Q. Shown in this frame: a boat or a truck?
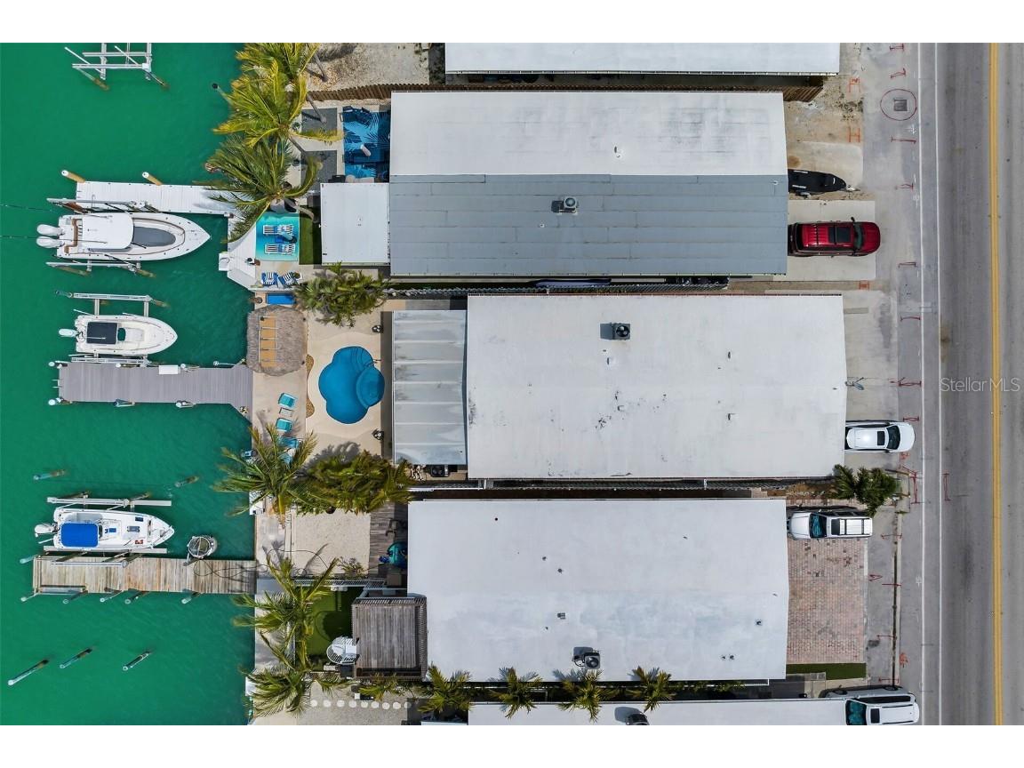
boat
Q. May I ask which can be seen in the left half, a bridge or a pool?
pool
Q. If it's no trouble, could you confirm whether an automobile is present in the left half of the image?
No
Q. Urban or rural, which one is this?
urban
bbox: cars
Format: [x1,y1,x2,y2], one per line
[810,683,917,734]
[789,506,876,548]
[846,417,917,458]
[788,214,883,259]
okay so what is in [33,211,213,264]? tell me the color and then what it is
white boat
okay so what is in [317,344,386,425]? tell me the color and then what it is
blue swimming pool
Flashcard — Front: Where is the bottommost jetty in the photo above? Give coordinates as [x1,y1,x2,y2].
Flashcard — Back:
[19,550,258,604]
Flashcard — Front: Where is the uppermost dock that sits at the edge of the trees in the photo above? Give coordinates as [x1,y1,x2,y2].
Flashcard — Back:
[62,170,236,215]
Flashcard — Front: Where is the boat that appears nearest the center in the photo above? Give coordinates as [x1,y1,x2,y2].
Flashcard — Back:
[535,275,613,288]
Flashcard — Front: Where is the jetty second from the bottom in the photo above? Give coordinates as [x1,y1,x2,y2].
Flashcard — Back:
[48,354,254,420]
